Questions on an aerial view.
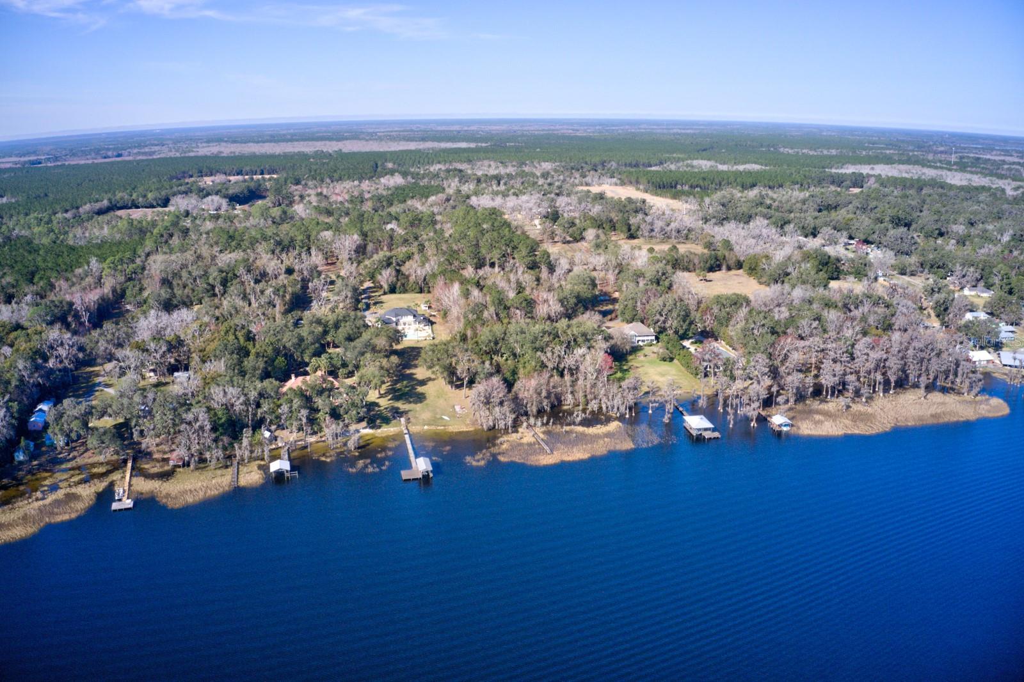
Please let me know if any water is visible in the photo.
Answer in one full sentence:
Yes, water shows up in the scene.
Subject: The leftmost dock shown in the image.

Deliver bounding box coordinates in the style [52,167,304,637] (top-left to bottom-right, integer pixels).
[106,454,135,513]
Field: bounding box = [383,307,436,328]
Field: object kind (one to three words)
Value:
building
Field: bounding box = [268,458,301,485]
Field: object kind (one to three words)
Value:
building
